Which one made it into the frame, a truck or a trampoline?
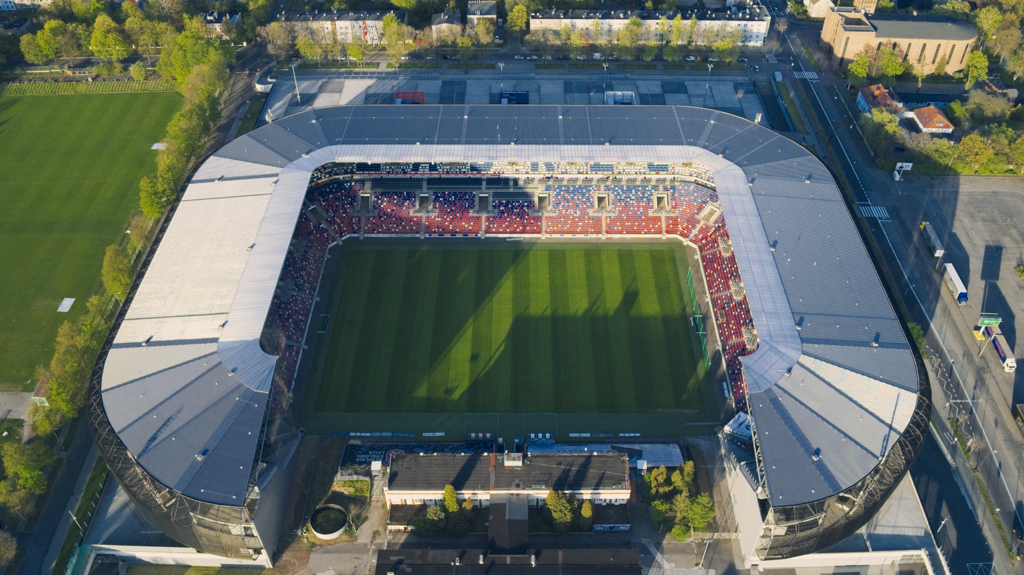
truck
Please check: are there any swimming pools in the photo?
No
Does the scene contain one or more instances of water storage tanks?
Yes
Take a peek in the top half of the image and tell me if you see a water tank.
No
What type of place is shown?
sports ground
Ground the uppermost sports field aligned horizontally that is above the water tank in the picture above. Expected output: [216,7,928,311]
[315,249,705,413]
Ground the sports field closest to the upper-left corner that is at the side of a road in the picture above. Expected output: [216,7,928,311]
[0,91,184,393]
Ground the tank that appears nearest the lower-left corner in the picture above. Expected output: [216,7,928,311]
[309,504,352,545]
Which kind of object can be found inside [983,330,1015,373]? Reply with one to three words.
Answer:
truck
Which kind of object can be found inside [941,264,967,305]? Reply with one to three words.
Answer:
truck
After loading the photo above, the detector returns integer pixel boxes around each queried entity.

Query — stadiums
[85,103,935,566]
